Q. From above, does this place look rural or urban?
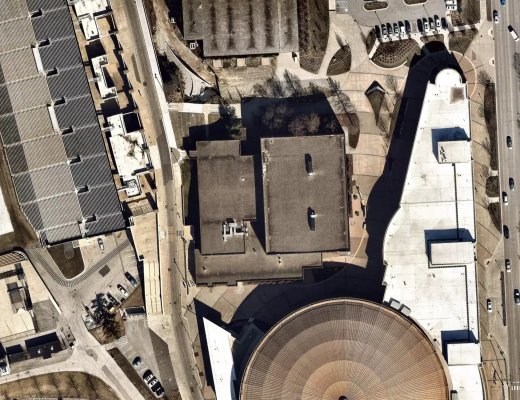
urban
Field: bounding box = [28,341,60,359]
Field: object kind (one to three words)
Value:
shed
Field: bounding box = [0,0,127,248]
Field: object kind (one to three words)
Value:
building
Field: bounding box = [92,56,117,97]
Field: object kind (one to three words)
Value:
house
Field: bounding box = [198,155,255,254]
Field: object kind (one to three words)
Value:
building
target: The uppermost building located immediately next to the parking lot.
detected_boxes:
[183,0,299,56]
